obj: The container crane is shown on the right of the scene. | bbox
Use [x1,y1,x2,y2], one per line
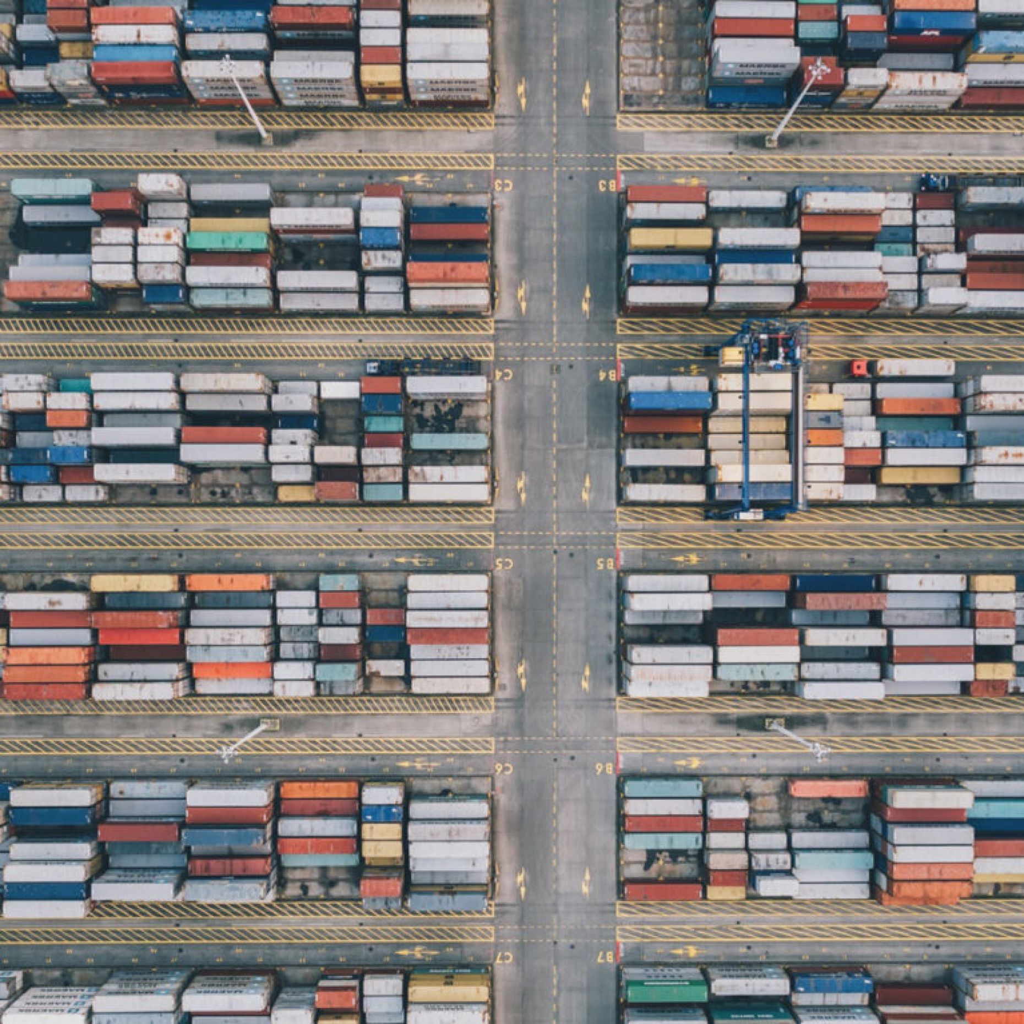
[703,316,817,519]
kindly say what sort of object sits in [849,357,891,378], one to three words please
truck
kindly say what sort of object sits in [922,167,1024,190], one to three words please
truck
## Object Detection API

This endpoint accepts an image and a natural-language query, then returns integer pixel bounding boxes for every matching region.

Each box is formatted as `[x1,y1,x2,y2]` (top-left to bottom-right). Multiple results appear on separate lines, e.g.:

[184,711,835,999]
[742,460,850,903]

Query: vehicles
[366,355,476,376]
[849,357,891,378]
[922,167,1024,190]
